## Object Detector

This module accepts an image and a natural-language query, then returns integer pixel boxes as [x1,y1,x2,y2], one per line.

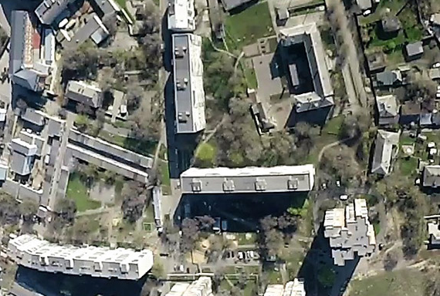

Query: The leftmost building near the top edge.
[6,12,40,73]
